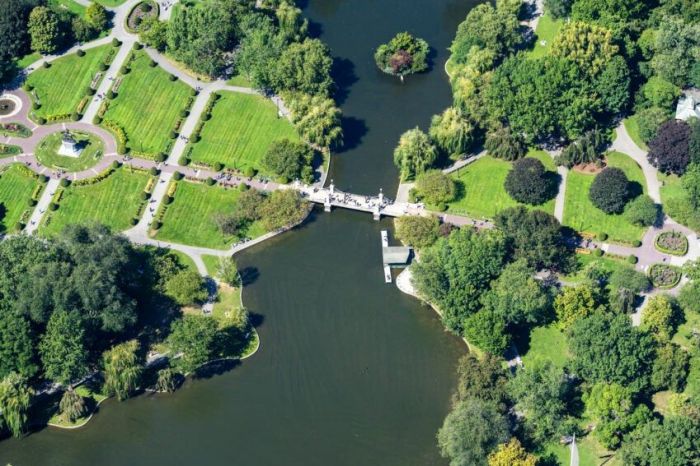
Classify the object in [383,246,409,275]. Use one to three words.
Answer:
building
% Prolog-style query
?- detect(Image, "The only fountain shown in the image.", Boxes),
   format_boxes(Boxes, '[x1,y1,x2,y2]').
[0,94,22,117]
